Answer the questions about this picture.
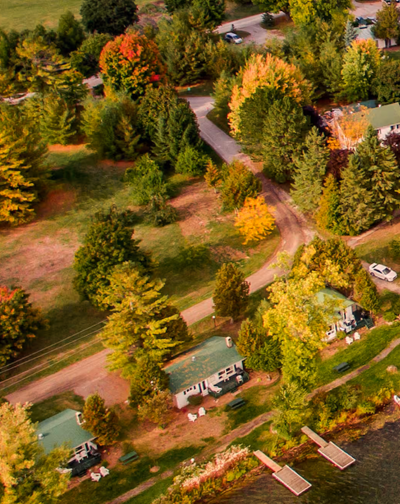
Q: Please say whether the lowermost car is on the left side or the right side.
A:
right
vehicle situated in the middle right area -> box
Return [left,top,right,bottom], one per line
[364,263,398,284]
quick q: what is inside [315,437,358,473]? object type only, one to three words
pier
